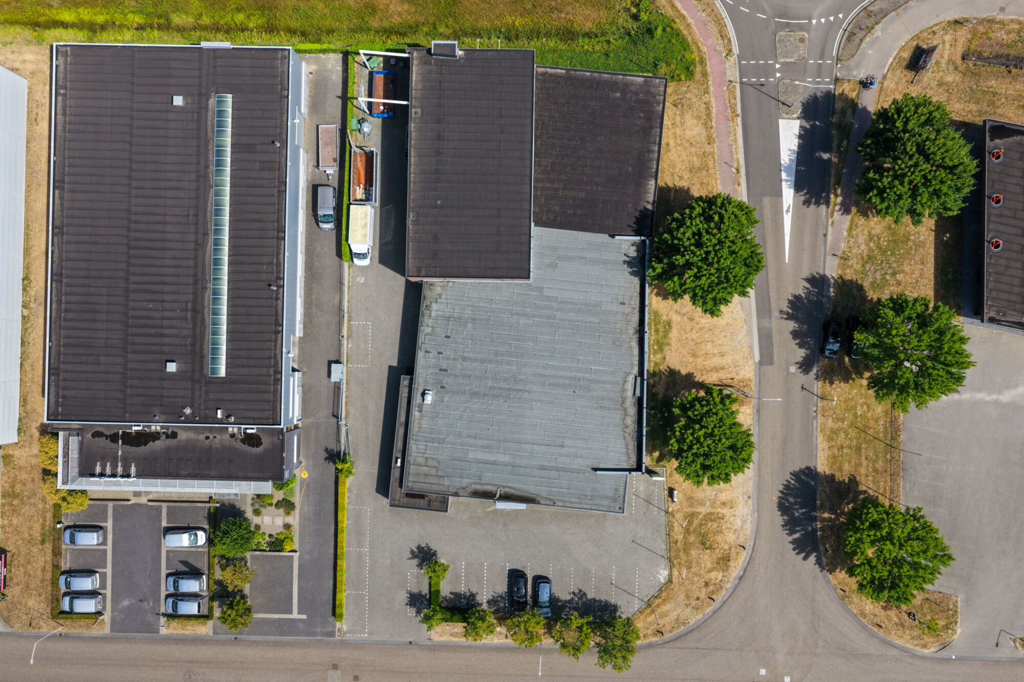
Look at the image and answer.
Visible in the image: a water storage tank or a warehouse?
warehouse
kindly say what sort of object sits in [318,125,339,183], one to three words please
trailer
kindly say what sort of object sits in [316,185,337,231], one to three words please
vehicle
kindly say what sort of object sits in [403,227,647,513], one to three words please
building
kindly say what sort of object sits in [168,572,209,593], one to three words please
car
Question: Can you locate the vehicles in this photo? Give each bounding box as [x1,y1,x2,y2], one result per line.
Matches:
[63,592,105,614]
[316,185,337,231]
[61,570,103,591]
[820,319,843,360]
[509,570,529,613]
[65,526,107,546]
[166,595,208,616]
[163,527,209,548]
[348,204,374,268]
[168,572,209,593]
[534,575,554,617]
